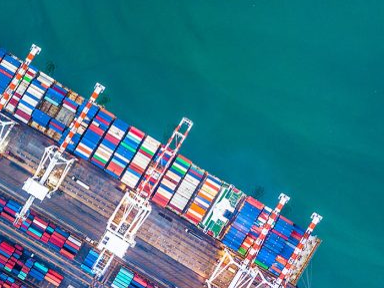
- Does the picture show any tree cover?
No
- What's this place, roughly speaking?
port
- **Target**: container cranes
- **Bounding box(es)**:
[15,81,106,225]
[92,118,193,273]
[0,42,40,156]
[245,212,324,288]
[201,192,290,288]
